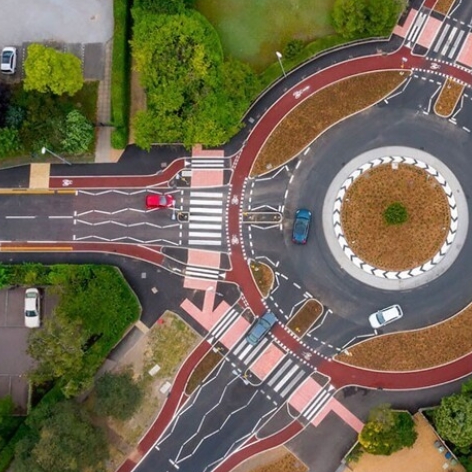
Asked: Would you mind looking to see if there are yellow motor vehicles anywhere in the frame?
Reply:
No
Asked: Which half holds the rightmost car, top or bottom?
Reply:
bottom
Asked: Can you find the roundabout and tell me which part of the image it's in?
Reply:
right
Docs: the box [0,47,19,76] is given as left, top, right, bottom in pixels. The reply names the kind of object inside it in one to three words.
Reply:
car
